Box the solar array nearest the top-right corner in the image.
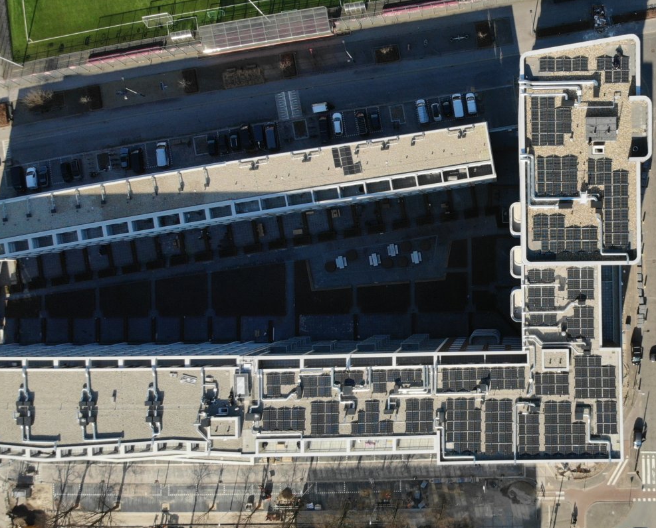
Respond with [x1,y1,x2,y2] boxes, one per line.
[596,59,628,84]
